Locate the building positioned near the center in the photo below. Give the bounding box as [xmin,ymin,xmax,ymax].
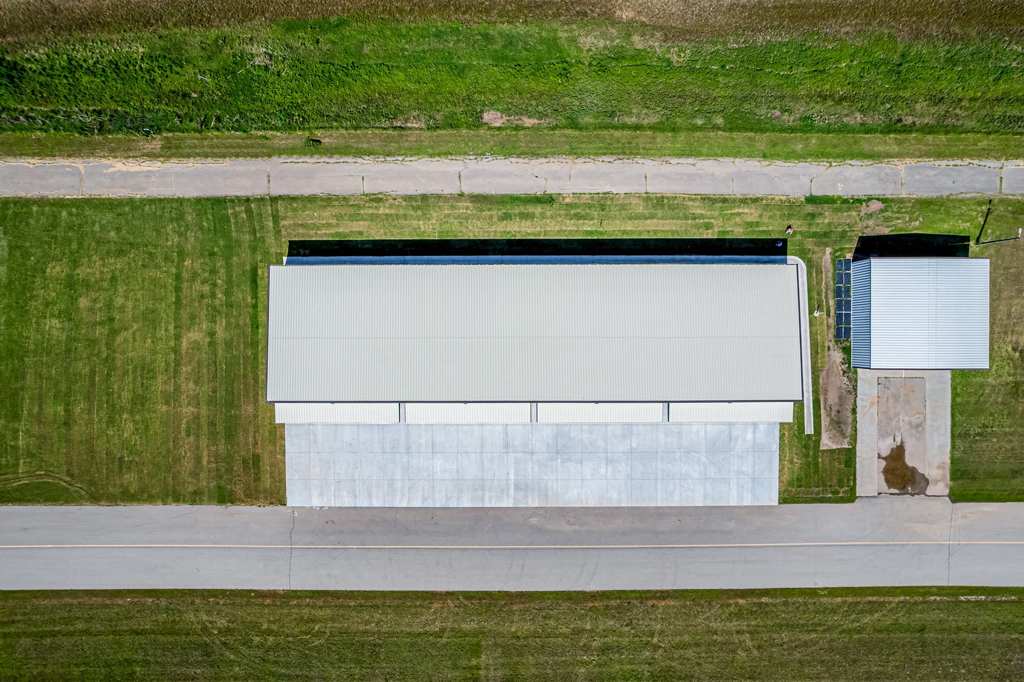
[264,263,804,423]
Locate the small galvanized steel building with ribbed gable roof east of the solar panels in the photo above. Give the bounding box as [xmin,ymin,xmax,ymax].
[851,254,990,370]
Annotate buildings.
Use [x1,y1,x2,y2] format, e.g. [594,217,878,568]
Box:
[264,263,804,423]
[851,254,990,370]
